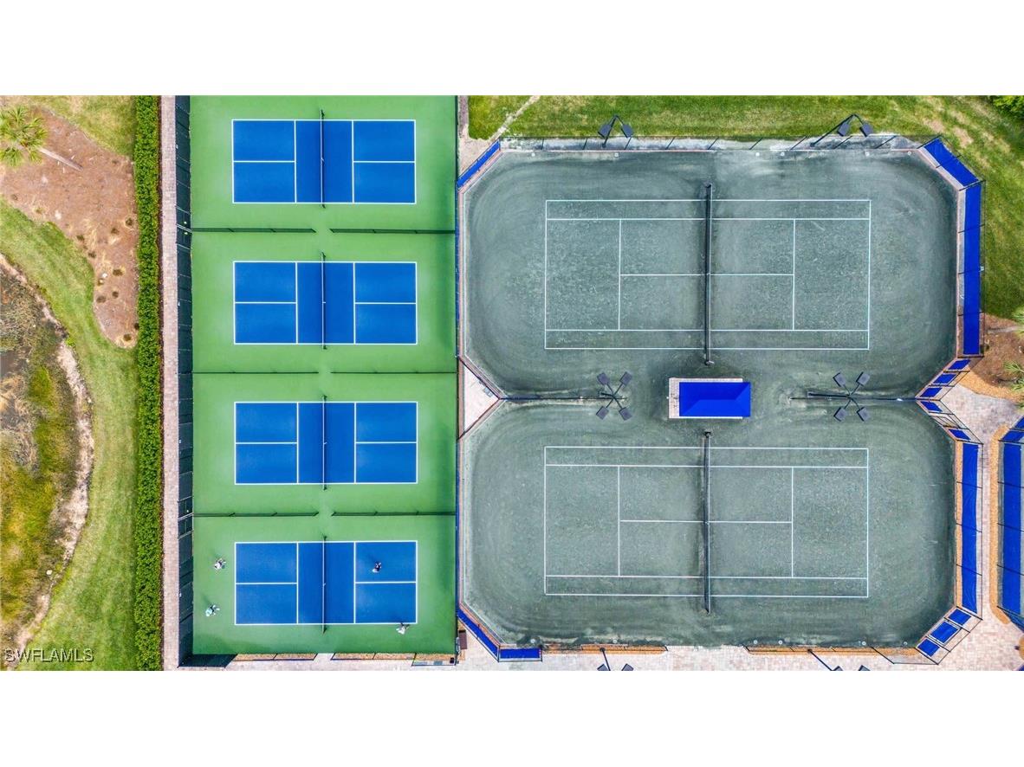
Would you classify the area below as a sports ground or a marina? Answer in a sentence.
This image shows a sports ground.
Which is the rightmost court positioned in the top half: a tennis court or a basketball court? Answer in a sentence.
It turns out the rightmost court positioned in the top half is a tennis court.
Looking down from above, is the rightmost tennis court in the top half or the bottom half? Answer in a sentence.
The bottom half of the photo is where the rightmost tennis court is.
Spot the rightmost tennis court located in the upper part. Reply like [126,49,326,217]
[460,148,960,398]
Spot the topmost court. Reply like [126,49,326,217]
[189,90,453,229]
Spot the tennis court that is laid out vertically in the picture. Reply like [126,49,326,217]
[999,417,1024,619]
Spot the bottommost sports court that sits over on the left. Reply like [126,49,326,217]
[192,514,454,654]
